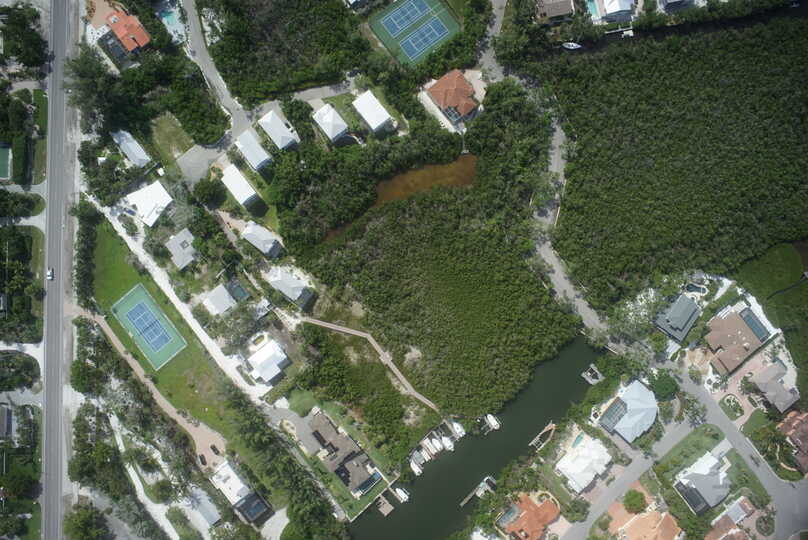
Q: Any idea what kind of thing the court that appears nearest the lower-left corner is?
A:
tennis court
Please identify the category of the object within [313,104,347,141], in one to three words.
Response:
house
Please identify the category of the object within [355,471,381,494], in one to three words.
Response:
swimming pool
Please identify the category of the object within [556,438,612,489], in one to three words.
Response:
house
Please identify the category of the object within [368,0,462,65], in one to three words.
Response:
tennis court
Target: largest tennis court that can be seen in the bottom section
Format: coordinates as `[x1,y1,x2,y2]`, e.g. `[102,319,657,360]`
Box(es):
[111,282,188,373]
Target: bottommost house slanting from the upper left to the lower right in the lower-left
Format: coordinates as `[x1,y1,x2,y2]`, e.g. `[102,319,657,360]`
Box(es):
[189,485,221,526]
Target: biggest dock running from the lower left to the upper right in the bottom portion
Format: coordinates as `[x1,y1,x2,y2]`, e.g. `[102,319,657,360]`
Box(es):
[410,419,459,471]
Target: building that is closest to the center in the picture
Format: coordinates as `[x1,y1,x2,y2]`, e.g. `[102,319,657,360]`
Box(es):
[261,264,307,302]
